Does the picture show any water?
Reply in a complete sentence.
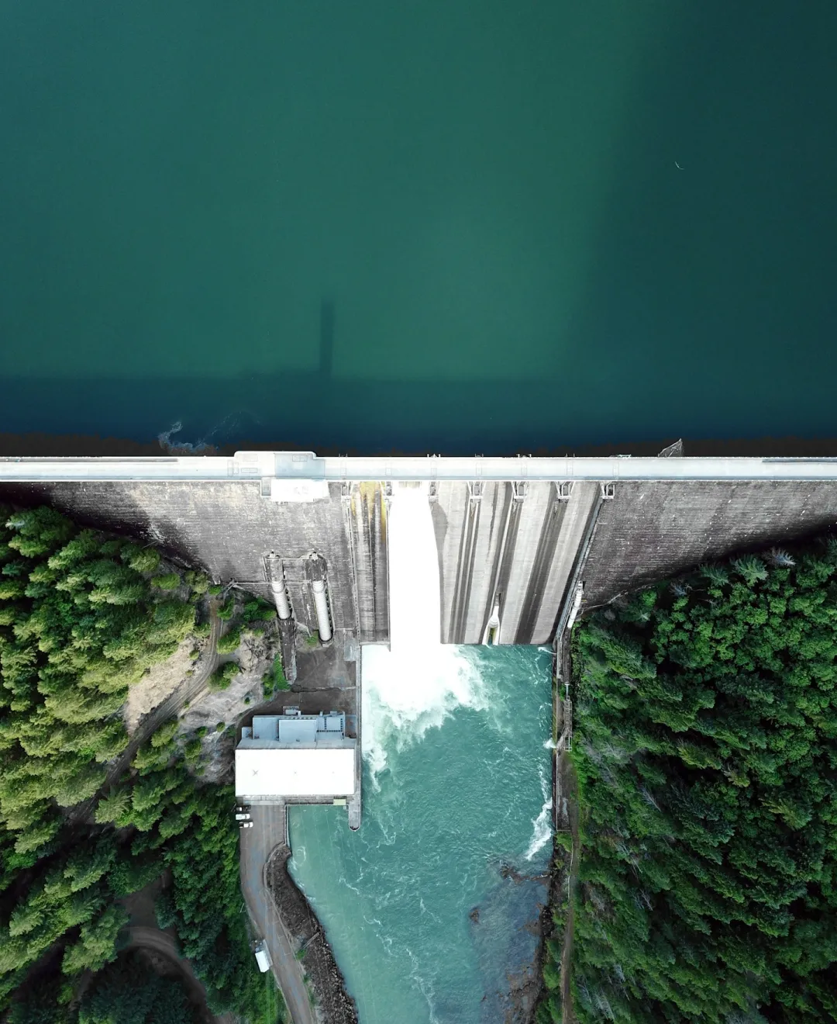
Yes, water shows up in the scene.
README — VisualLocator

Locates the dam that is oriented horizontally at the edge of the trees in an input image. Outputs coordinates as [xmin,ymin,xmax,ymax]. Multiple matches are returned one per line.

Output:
[0,451,837,653]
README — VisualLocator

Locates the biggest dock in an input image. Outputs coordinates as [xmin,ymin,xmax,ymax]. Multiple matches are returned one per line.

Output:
[348,797,362,830]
